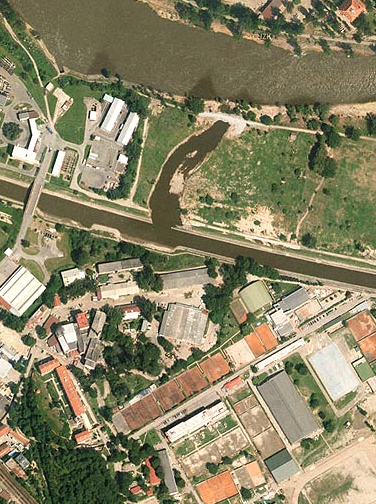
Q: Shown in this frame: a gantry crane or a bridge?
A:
bridge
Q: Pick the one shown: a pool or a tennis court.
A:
tennis court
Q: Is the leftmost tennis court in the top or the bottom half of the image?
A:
bottom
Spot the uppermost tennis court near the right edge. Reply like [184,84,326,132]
[347,311,376,339]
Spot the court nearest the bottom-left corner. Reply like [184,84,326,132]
[121,393,164,430]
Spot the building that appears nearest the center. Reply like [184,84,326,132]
[155,266,211,293]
